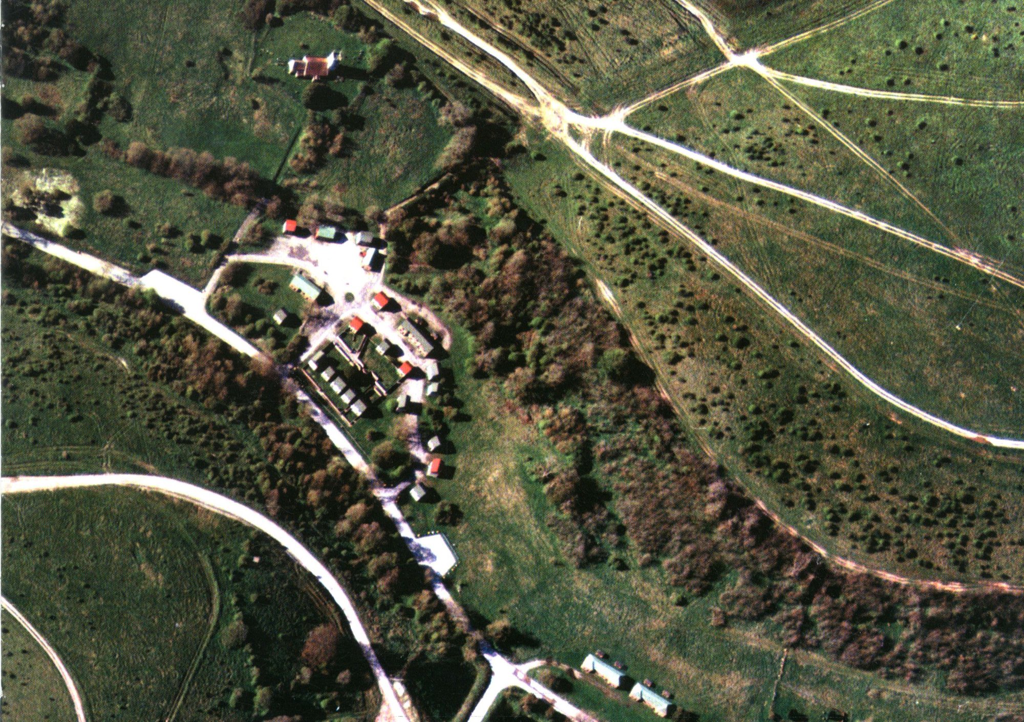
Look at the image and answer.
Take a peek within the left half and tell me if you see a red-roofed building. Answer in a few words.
Yes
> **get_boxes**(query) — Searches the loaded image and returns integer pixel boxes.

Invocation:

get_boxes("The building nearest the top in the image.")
[291,56,342,87]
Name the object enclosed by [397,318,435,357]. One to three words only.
house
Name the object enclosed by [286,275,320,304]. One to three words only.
house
